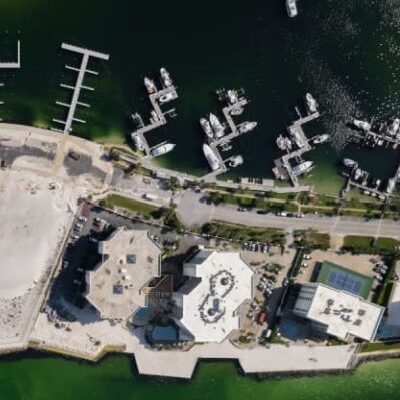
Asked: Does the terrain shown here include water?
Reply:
Yes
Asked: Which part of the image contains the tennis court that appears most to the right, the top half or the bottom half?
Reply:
bottom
